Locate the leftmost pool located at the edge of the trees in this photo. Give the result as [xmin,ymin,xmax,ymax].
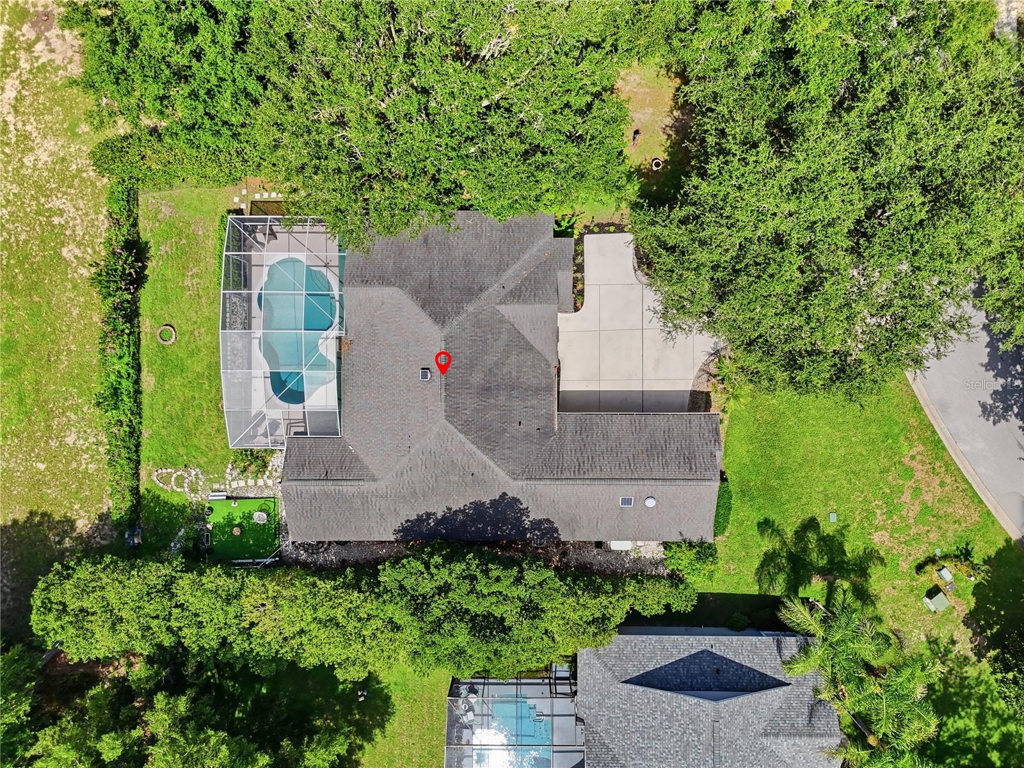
[252,252,341,409]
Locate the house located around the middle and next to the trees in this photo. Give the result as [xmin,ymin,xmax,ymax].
[282,211,724,541]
